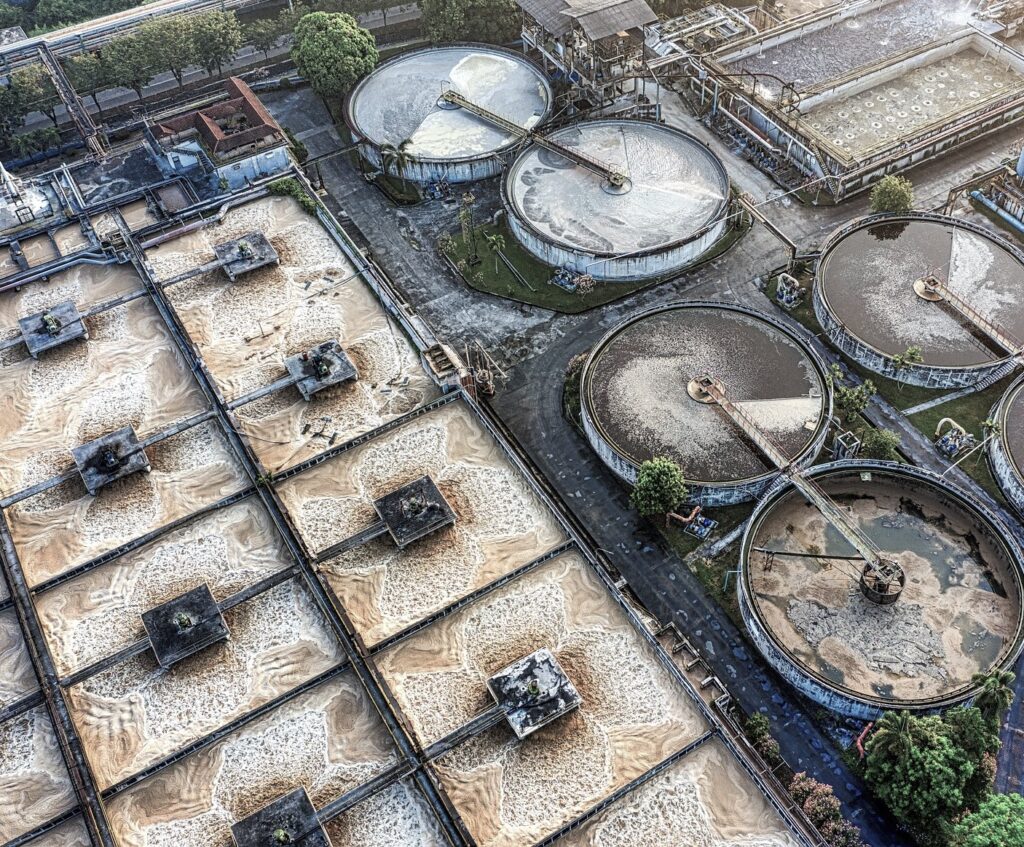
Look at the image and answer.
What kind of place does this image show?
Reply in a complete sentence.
This image shows an industrial area.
